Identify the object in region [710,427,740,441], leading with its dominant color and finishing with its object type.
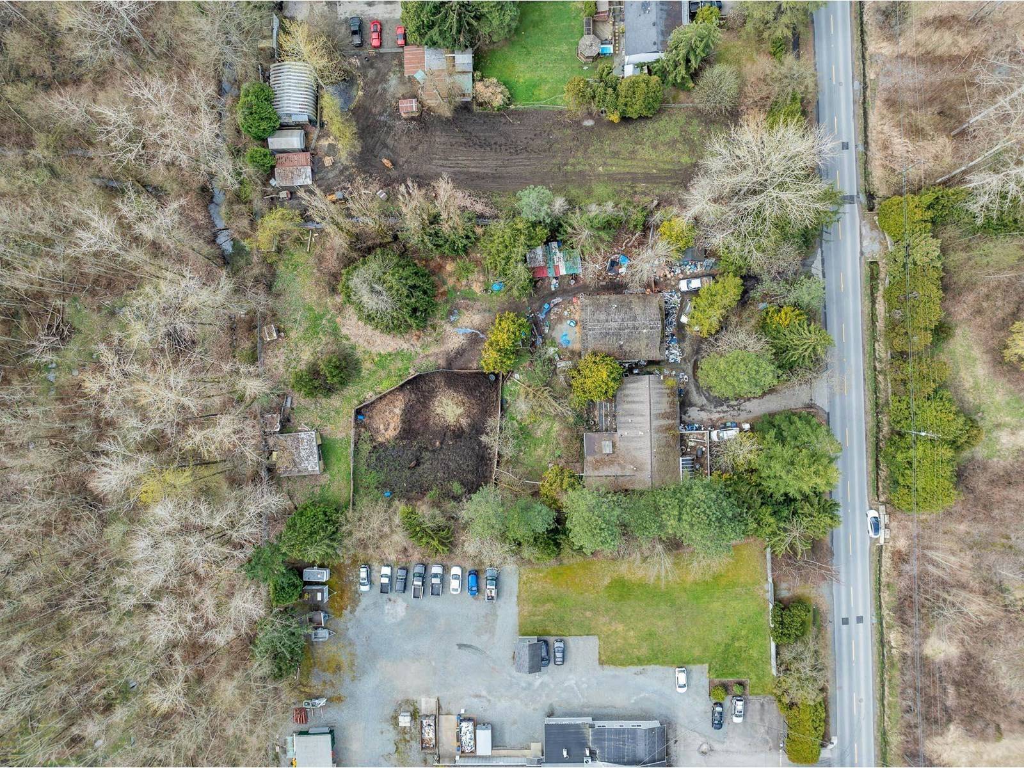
white vehicle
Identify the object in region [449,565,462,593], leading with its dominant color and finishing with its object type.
white vehicle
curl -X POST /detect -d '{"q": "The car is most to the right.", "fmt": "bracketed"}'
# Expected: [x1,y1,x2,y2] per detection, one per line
[865,509,881,538]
